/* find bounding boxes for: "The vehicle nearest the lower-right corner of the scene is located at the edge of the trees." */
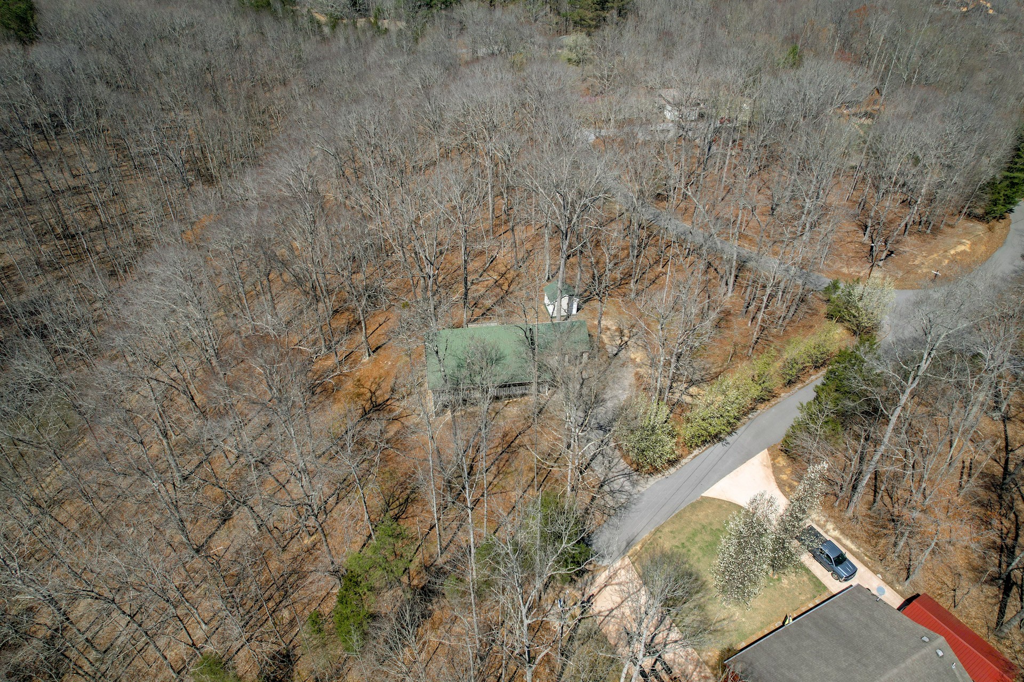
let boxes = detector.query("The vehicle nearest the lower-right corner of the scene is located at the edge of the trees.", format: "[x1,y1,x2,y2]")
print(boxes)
[796,524,856,583]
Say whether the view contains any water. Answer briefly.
No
